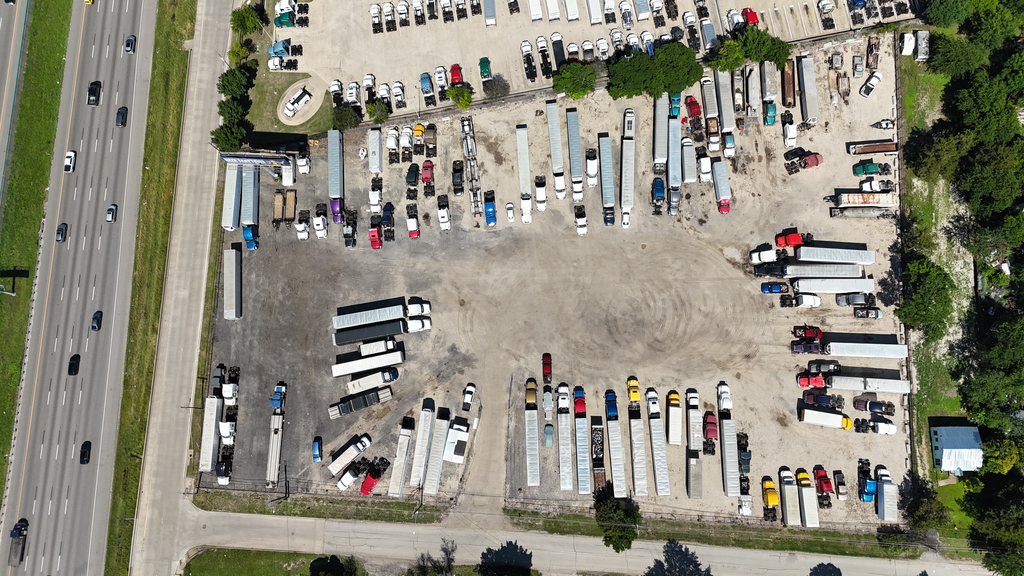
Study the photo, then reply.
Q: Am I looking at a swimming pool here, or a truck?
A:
truck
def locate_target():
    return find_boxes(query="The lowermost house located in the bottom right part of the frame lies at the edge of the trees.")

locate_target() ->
[930,426,983,481]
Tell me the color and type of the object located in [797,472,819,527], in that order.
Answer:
white truck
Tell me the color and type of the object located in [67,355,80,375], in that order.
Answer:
black vehicle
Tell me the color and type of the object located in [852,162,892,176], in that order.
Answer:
green vehicle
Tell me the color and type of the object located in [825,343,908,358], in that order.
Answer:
white trailer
